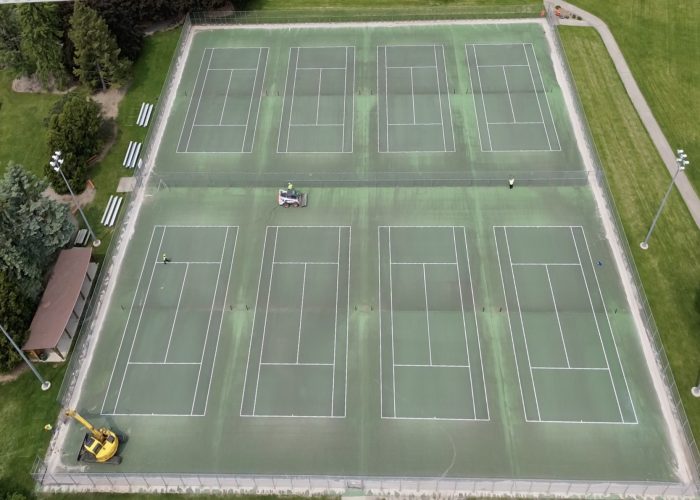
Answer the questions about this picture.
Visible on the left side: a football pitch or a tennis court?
tennis court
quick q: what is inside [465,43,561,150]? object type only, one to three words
tennis court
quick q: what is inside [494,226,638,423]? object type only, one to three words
tennis court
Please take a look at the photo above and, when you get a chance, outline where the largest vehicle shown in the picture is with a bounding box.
[64,410,123,465]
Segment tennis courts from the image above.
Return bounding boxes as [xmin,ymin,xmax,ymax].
[465,43,561,150]
[276,46,360,152]
[101,225,238,416]
[240,226,358,418]
[371,44,457,151]
[371,226,489,421]
[176,47,269,153]
[494,226,638,423]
